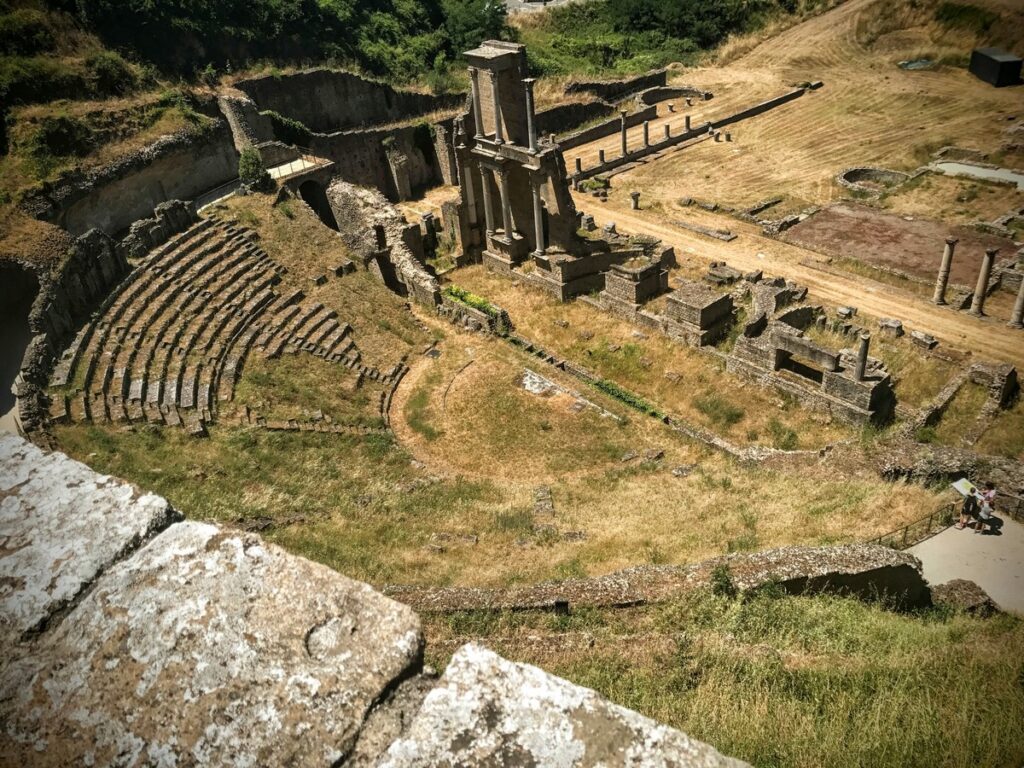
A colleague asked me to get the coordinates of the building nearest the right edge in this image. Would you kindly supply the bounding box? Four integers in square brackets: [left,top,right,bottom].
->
[970,42,1024,87]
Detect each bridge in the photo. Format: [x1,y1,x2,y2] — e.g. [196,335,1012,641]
[278,136,337,223]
